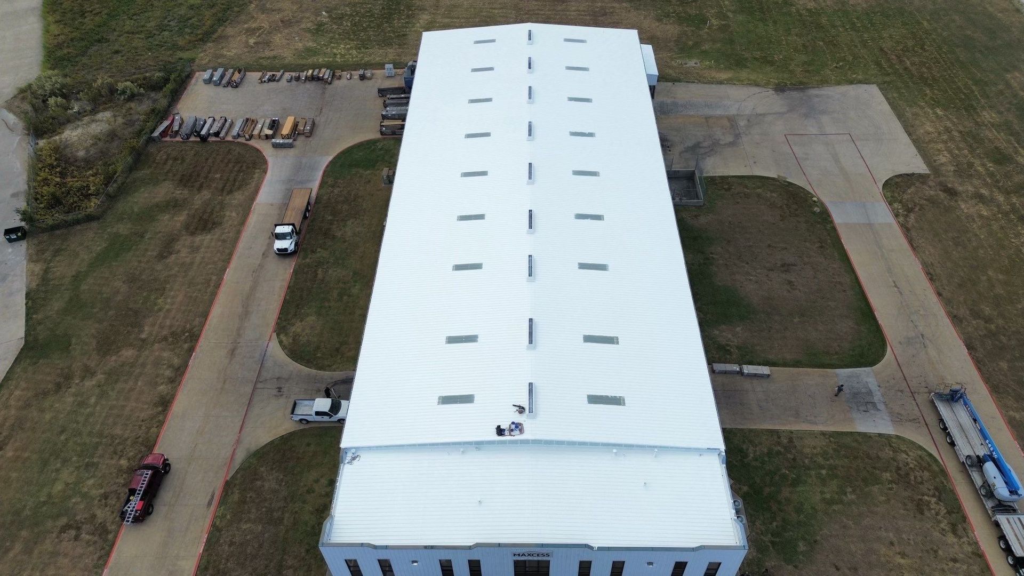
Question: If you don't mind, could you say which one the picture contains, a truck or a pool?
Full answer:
Of the two, only a truck appears.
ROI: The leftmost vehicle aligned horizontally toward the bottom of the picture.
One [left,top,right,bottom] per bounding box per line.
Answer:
[290,397,347,425]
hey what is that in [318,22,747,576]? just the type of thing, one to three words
warehouse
